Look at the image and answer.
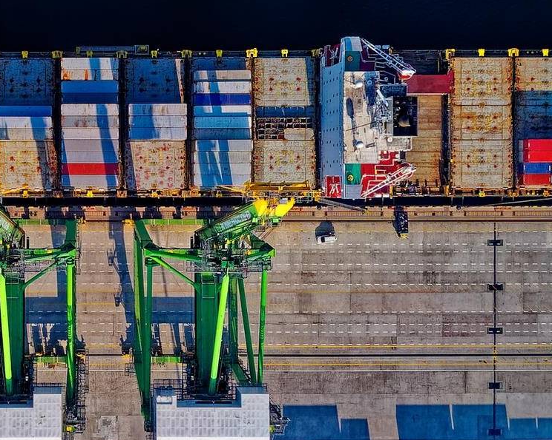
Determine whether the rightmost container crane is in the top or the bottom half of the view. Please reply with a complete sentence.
It is in the bottom half that the rightmost container crane appears.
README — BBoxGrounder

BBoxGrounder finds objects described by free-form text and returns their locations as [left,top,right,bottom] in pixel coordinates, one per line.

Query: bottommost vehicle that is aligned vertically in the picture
[398,205,413,241]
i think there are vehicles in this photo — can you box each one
[318,233,339,243]
[398,205,413,241]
